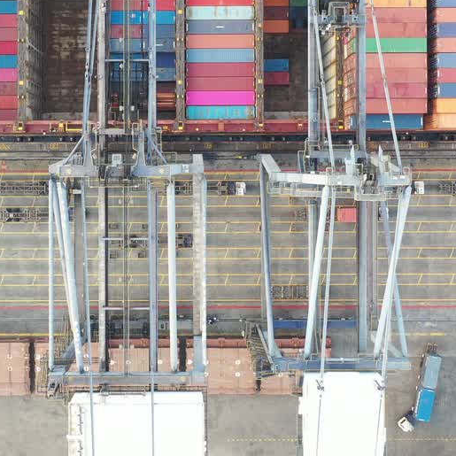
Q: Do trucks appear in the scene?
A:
Yes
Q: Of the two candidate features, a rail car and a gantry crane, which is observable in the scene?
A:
gantry crane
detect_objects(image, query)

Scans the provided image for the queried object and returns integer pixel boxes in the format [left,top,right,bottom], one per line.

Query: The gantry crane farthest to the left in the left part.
[25,0,218,456]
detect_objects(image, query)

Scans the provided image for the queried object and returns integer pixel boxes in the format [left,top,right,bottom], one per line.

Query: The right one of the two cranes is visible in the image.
[234,0,416,456]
